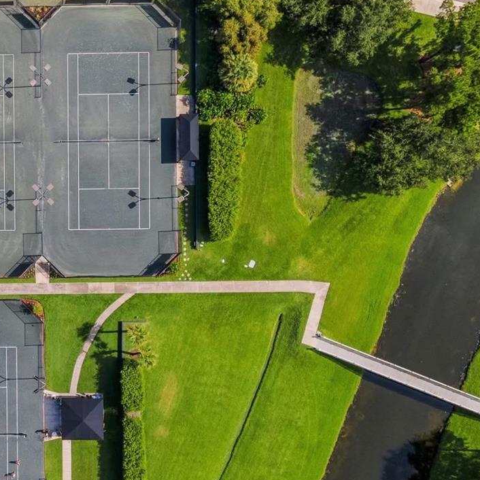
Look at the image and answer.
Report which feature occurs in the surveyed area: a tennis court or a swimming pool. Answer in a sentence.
This aerial view contains a tennis court.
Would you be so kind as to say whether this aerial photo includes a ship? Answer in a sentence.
No, no ship can be seen from above.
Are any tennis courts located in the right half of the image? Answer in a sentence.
No, the scene shows no tennis court in the right half of the image.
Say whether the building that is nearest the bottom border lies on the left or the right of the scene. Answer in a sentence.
It is on the left.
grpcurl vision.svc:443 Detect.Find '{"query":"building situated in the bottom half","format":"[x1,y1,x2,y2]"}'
[62,394,103,440]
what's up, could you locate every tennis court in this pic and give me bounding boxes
[0,5,42,278]
[0,298,46,480]
[41,3,179,277]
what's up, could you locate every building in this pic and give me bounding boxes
[174,114,200,161]
[62,394,103,440]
